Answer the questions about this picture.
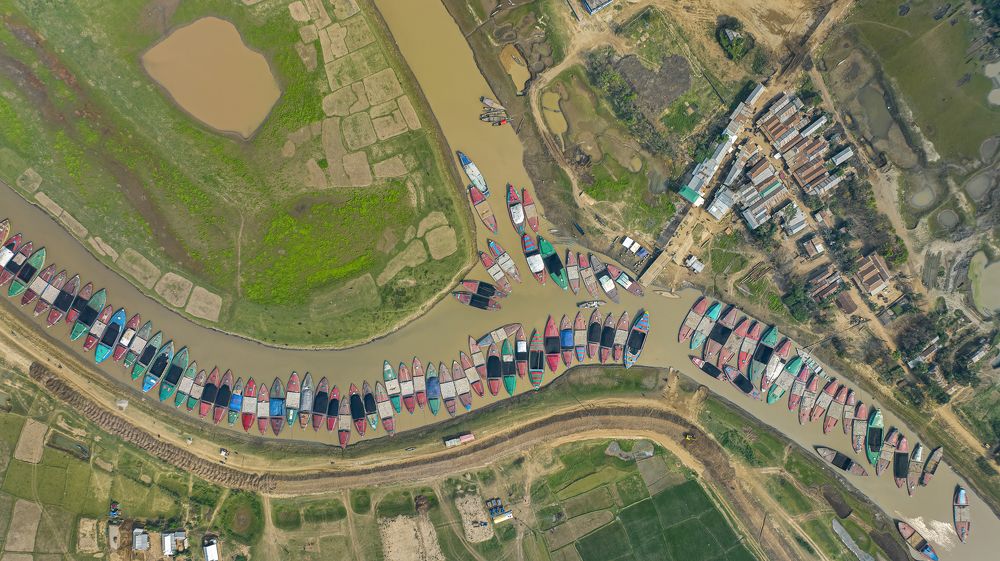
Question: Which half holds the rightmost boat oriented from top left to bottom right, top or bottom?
bottom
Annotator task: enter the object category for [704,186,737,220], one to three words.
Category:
shed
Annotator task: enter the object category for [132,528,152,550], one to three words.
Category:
house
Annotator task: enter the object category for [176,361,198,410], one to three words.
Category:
boat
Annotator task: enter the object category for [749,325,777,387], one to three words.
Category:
boat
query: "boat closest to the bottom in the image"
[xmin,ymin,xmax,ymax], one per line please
[894,519,939,561]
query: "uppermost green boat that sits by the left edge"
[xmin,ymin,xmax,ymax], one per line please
[7,246,48,299]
